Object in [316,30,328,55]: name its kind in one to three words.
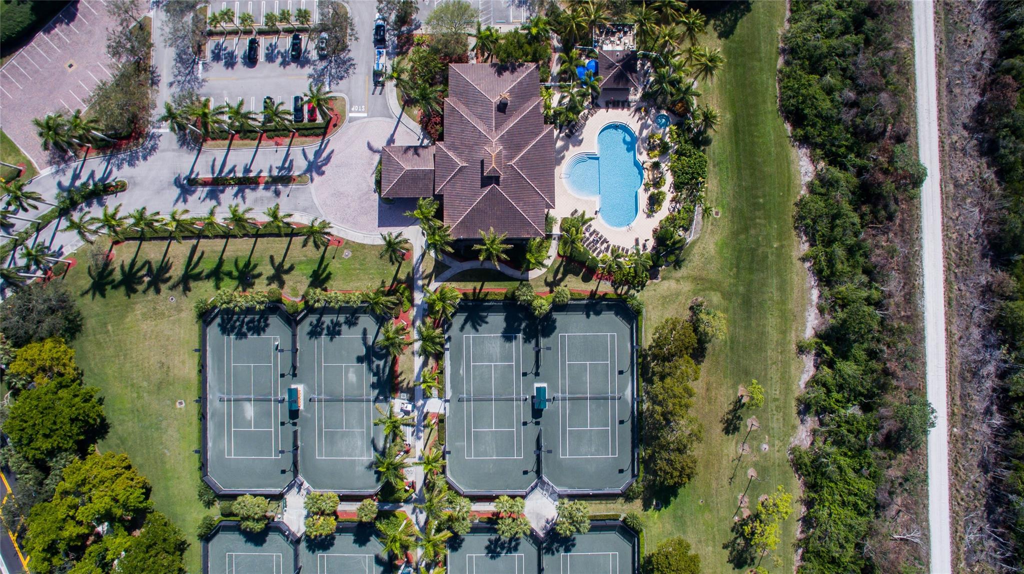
vehicle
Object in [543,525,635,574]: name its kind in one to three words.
tennis court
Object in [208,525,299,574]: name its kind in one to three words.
tennis court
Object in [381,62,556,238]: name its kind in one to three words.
building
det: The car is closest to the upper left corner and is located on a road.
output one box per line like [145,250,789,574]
[244,36,258,62]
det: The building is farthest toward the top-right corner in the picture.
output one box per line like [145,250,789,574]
[598,49,638,90]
